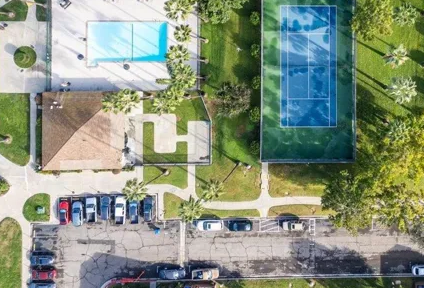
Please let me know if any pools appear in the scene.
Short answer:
Yes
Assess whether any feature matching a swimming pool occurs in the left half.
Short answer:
Yes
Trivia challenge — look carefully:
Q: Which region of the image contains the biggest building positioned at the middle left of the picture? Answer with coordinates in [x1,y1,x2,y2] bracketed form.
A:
[42,91,128,170]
